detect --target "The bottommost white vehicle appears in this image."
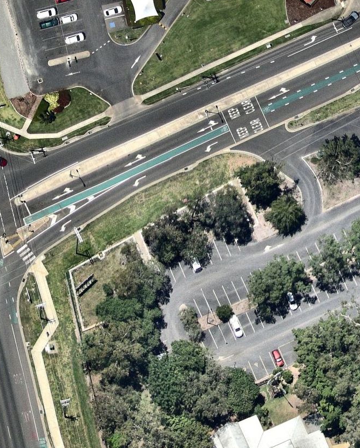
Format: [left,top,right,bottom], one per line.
[231,316,244,337]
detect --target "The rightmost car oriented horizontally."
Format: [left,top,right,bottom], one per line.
[103,4,123,16]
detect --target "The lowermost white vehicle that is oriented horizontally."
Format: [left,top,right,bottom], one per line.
[65,32,86,44]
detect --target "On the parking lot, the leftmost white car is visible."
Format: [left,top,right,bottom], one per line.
[36,7,57,19]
